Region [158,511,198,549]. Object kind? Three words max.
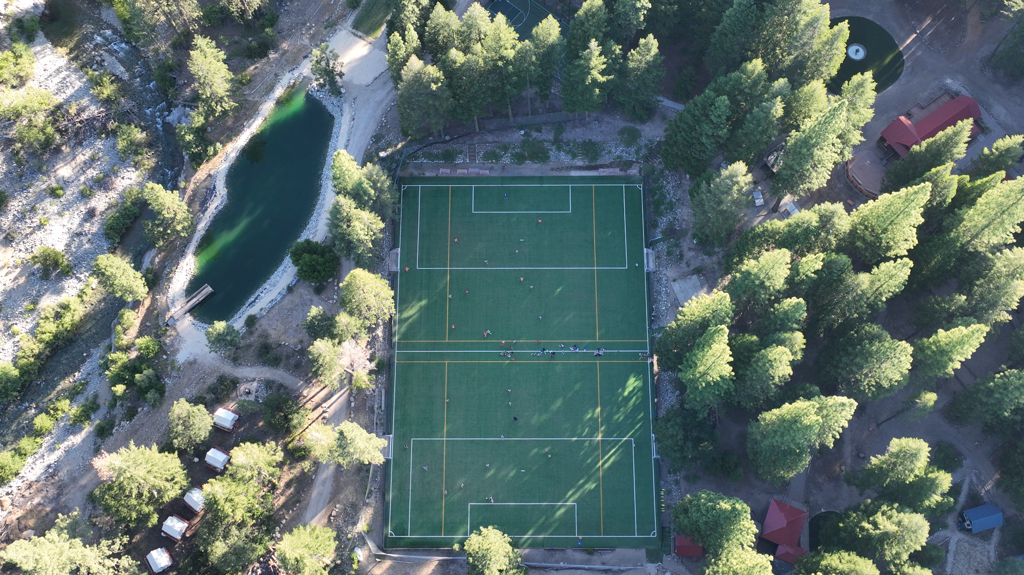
tent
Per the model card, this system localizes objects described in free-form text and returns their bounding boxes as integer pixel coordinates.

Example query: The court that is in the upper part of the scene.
[464,0,619,89]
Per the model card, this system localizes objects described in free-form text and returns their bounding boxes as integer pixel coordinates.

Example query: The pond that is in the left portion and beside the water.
[189,82,331,319]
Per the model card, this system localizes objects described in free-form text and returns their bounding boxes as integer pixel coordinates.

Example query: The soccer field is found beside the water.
[384,176,661,549]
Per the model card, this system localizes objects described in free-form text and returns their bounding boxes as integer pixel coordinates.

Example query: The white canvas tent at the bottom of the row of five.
[143,543,181,575]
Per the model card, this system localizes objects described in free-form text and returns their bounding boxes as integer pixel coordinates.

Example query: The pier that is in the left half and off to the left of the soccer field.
[165,282,213,326]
